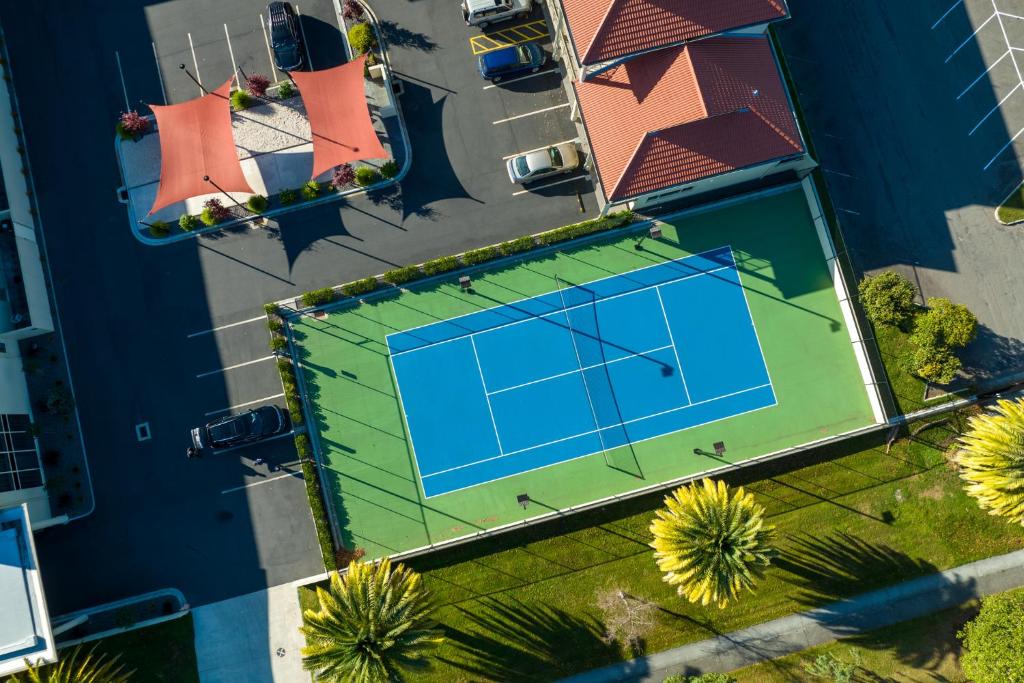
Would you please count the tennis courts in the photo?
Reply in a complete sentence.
In total, there is 1 tennis court in the scene.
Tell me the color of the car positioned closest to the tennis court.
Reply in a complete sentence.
The car positioned closest to the tennis court is black.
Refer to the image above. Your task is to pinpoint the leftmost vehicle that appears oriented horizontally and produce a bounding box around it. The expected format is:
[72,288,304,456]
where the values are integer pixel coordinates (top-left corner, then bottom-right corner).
[192,403,293,450]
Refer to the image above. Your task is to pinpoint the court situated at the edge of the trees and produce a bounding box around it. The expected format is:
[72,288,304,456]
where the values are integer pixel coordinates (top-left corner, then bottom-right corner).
[295,183,878,564]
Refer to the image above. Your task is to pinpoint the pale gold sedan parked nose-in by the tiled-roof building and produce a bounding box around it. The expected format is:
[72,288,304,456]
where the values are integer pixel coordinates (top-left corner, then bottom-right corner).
[506,142,580,184]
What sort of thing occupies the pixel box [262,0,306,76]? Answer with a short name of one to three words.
car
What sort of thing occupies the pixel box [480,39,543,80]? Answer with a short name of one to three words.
car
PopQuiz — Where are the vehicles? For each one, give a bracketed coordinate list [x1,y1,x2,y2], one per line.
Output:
[506,142,580,184]
[462,0,537,27]
[192,403,293,450]
[262,0,306,76]
[480,39,543,80]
